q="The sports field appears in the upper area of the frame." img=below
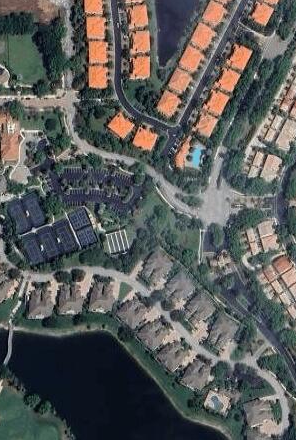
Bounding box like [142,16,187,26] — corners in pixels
[0,32,47,85]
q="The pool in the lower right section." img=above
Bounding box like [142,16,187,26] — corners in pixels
[205,391,229,412]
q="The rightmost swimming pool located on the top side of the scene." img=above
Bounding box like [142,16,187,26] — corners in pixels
[189,138,207,170]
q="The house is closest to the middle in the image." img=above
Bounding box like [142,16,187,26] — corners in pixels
[135,251,176,290]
